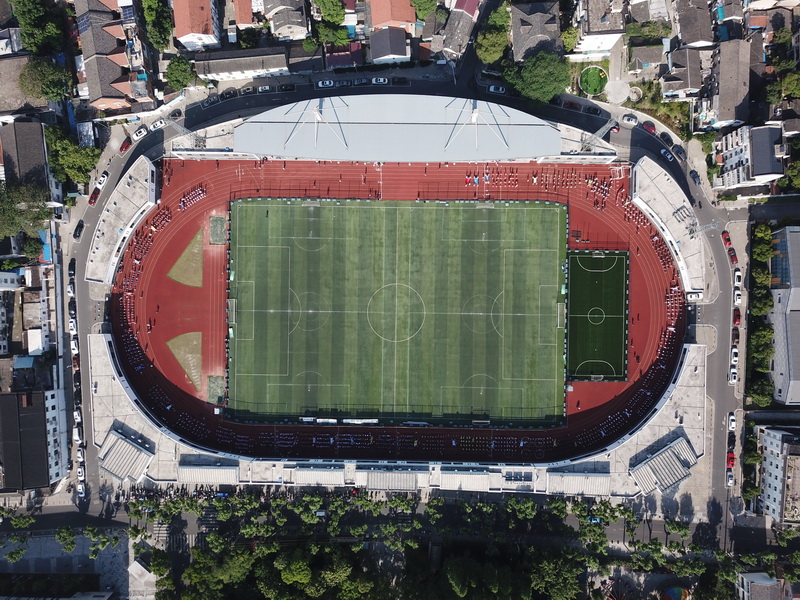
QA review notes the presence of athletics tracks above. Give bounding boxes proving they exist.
[107,156,689,463]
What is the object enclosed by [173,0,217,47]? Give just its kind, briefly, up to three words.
house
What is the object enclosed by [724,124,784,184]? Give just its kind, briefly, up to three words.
building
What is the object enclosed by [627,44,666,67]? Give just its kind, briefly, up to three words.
house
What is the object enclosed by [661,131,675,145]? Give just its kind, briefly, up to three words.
vehicle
